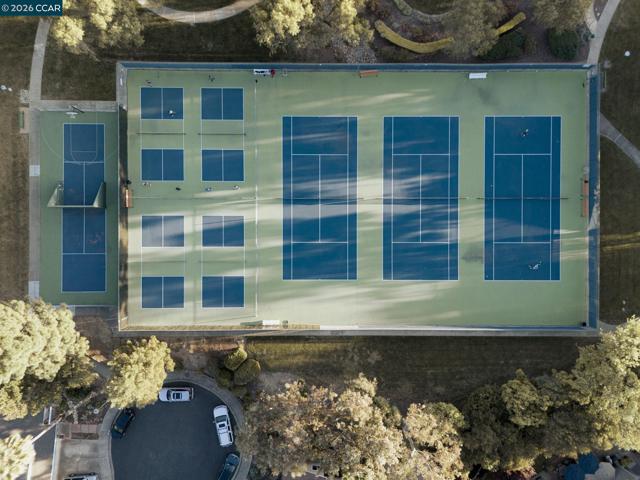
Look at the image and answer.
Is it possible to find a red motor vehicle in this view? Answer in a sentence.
No, no red motor vehicle is visible in the scene.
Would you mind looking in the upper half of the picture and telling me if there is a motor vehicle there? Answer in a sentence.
No, no motor vehicle appears in the upper half of the picture.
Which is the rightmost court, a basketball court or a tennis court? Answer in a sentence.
It turns out the rightmost court is a tennis court.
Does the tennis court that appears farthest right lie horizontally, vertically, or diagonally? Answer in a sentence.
In this picture, the tennis court that appears farthest right lies vertically.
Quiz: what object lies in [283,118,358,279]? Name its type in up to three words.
tennis court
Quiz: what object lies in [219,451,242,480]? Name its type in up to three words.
car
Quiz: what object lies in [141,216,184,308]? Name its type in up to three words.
sports court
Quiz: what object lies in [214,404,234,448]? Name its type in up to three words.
vehicle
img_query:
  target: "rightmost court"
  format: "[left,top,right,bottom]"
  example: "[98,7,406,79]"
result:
[486,117,560,279]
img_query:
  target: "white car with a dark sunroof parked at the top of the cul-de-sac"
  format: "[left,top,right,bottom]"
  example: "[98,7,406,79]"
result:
[159,388,195,404]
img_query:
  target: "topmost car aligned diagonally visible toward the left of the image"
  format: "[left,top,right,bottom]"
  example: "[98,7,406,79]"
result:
[110,407,136,440]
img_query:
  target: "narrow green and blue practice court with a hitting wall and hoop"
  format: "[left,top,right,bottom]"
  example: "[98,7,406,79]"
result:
[39,110,121,305]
